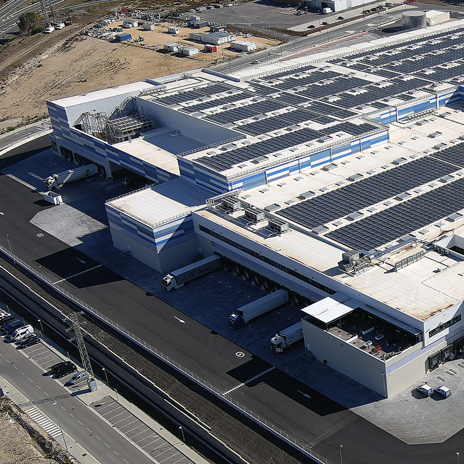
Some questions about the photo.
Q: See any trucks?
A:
Yes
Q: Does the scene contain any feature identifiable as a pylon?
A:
Yes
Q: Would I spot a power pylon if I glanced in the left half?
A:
Yes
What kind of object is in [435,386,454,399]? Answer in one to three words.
vehicle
